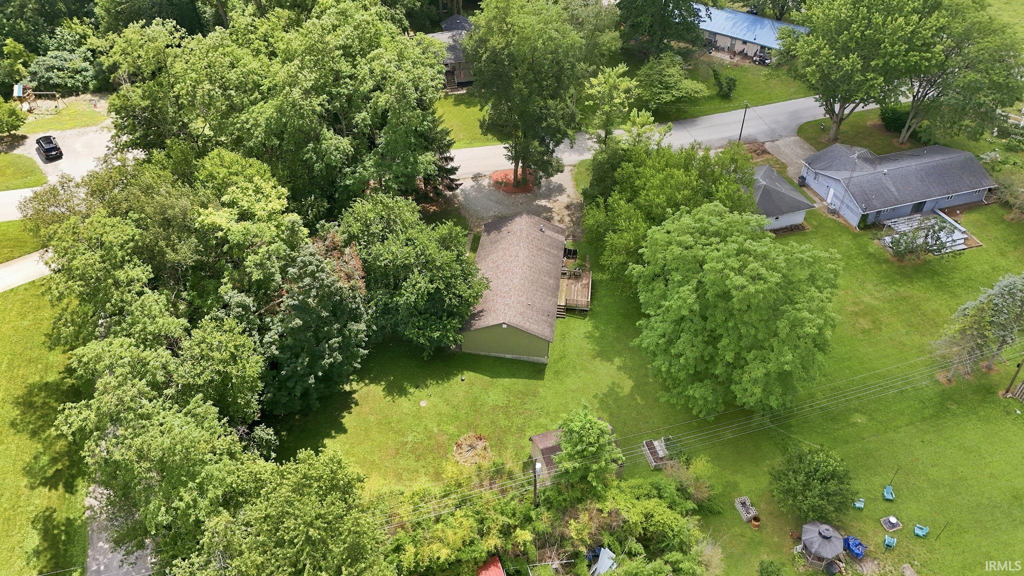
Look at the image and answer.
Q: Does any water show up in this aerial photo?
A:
No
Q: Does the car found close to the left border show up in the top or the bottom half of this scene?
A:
top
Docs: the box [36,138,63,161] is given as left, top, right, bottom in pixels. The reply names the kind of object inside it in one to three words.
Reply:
car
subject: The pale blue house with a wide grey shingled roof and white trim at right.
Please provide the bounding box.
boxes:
[800,143,999,228]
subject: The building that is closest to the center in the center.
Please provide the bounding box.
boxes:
[457,212,567,360]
